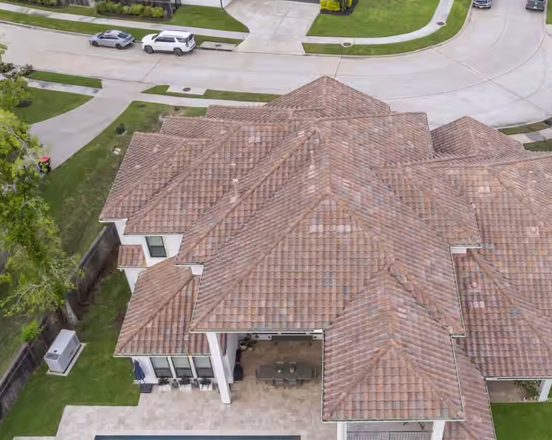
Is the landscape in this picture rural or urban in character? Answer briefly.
urban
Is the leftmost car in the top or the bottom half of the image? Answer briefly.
top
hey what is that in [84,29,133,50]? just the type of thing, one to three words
car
